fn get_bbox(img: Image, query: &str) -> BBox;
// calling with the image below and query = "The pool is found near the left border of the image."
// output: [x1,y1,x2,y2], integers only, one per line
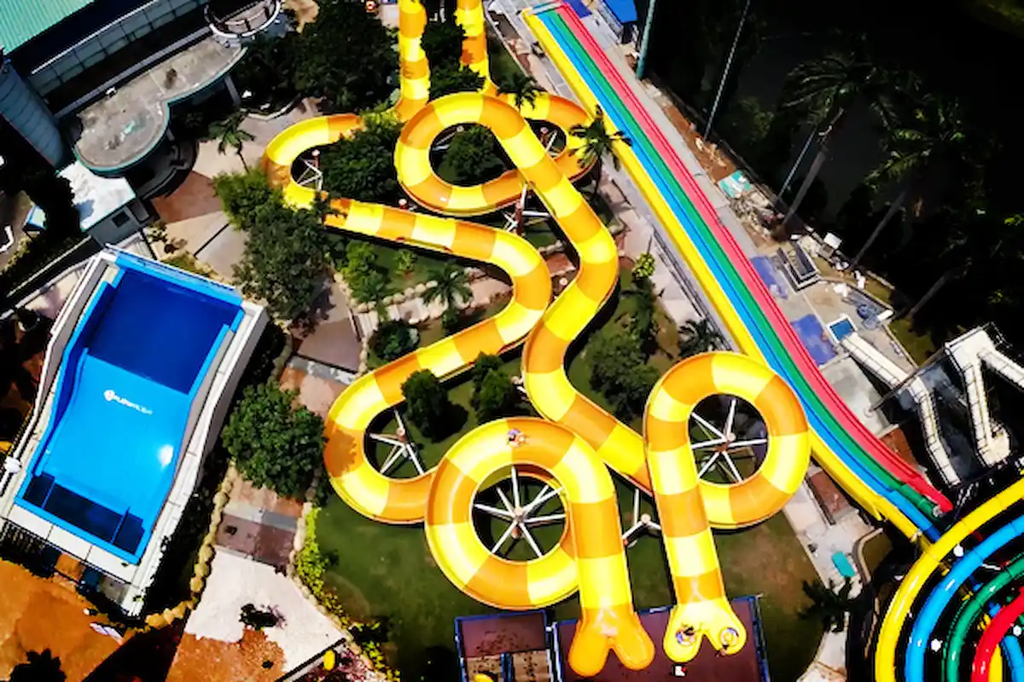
[0,245,272,614]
